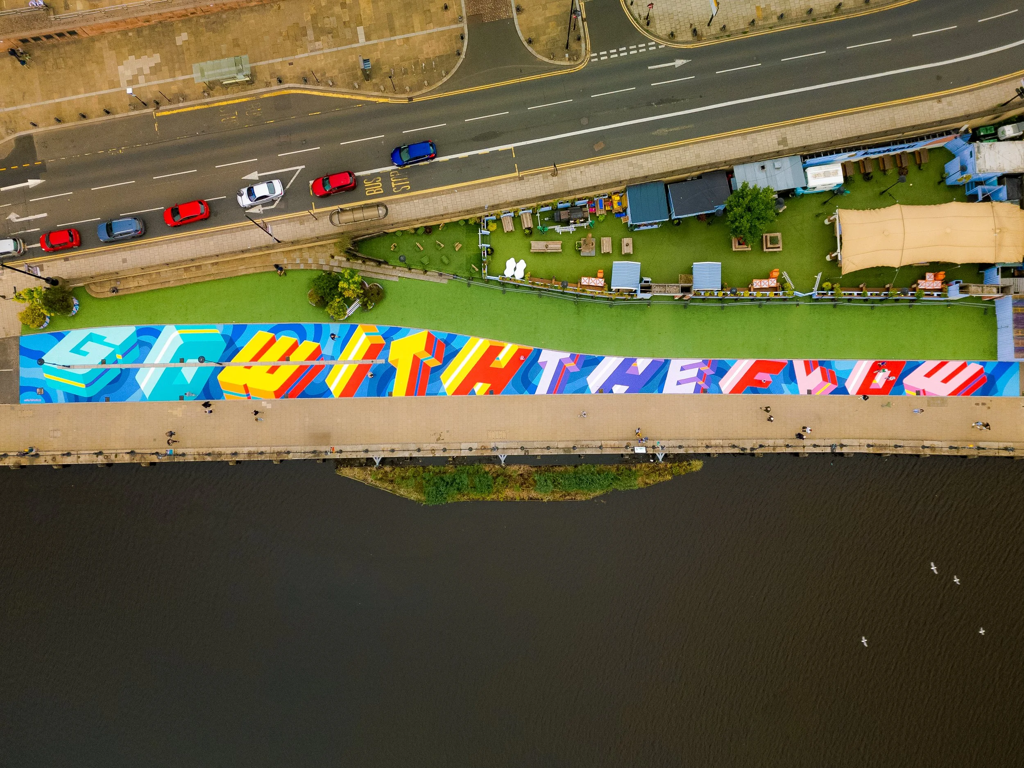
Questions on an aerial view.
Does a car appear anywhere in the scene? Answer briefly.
Yes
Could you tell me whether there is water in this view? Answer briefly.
Yes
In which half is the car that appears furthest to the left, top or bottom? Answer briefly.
top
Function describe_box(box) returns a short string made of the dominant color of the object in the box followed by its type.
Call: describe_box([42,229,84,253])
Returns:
red car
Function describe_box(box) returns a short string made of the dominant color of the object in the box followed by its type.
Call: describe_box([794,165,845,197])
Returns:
white van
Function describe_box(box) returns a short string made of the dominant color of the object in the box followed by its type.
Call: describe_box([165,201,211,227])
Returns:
red car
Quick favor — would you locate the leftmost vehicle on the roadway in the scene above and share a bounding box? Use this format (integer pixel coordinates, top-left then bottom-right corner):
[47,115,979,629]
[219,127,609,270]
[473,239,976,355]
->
[0,235,27,259]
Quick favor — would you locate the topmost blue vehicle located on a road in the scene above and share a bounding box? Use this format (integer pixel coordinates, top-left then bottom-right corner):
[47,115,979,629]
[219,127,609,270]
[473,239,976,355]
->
[392,141,436,168]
